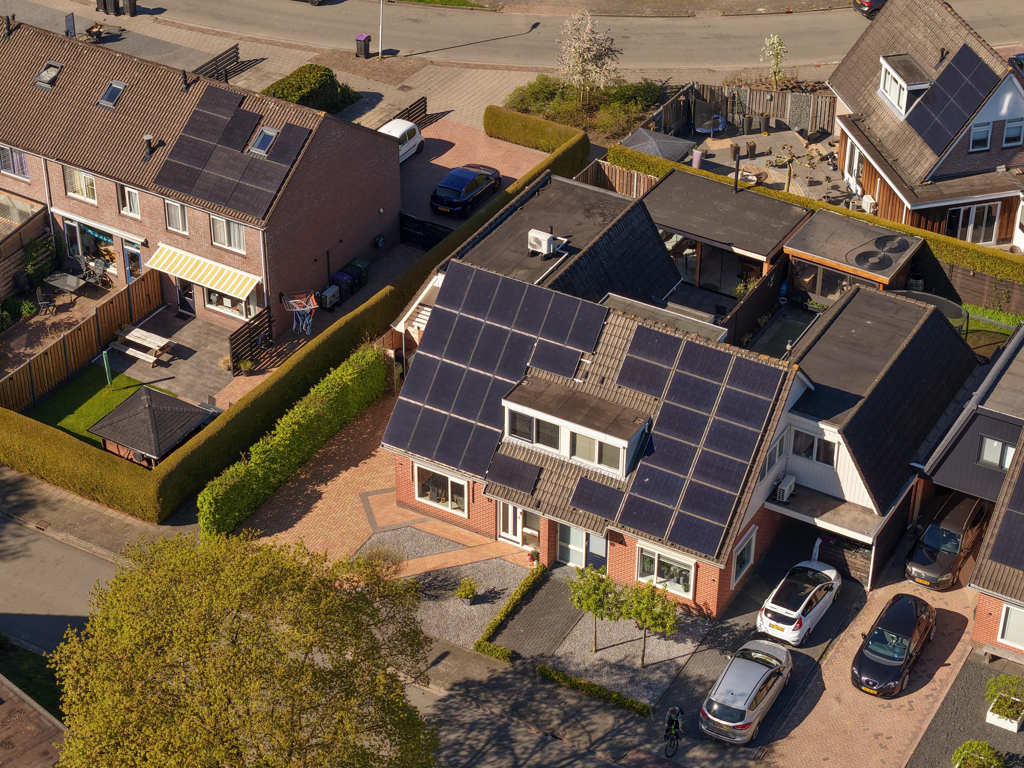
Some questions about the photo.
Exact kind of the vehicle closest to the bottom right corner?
automobile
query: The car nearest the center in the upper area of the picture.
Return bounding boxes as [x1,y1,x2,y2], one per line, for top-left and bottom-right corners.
[424,160,503,220]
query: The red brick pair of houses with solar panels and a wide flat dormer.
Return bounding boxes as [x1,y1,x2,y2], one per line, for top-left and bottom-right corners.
[373,256,825,622]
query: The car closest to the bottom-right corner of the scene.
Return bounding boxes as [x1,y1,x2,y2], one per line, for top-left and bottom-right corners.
[848,585,942,695]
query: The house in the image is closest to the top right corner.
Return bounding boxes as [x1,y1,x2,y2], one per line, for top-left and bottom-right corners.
[824,0,1024,253]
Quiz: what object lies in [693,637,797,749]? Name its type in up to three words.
car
